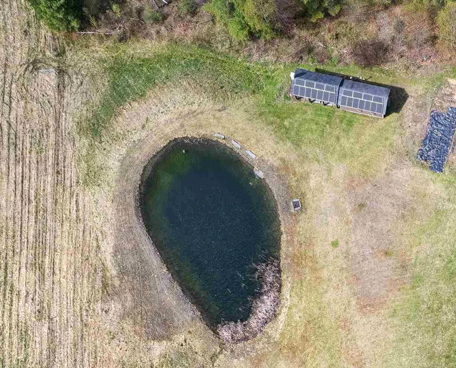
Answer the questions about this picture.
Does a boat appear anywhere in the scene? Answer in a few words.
No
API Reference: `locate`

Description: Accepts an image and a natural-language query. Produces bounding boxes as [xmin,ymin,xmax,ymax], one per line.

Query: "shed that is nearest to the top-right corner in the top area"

[339,78,391,121]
